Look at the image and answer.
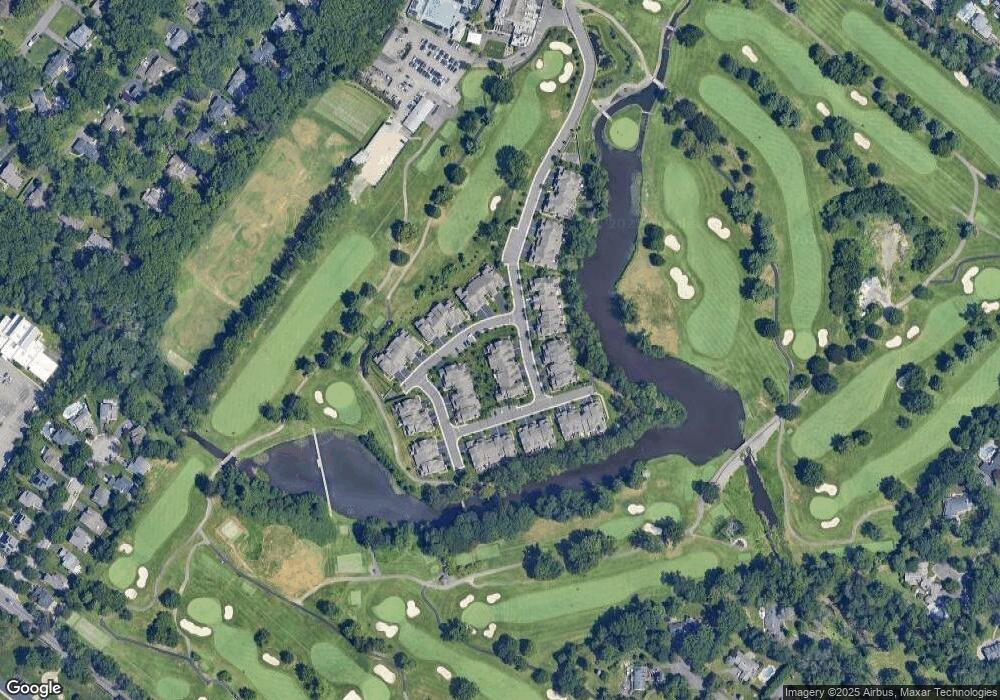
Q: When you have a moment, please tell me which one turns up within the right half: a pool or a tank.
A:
pool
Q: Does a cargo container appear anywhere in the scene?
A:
No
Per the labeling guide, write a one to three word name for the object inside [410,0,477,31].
building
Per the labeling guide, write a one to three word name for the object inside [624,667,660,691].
house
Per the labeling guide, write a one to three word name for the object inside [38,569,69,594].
house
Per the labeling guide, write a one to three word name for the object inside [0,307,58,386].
building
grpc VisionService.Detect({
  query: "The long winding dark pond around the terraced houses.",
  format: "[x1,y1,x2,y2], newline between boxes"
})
[236,79,744,522]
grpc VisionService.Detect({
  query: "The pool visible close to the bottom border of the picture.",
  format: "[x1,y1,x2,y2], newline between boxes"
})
[761,661,777,679]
